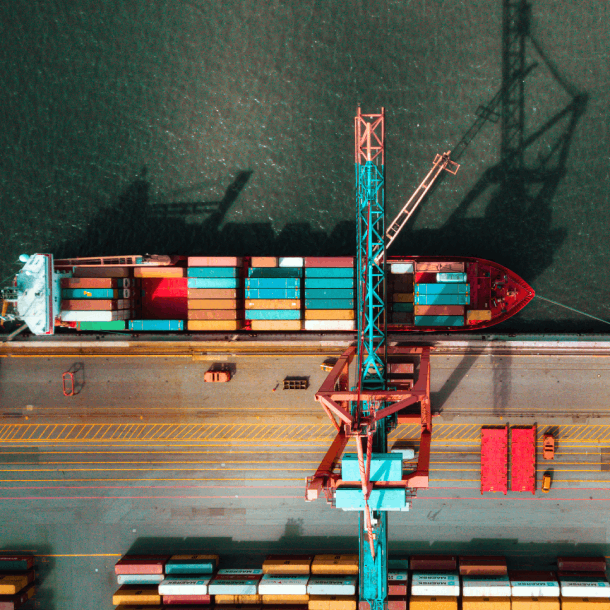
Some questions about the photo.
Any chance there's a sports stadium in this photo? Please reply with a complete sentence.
No, the scene contains no sports stadium.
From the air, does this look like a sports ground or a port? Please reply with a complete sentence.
This image shows a port.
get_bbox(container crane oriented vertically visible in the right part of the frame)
[306,105,438,610]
